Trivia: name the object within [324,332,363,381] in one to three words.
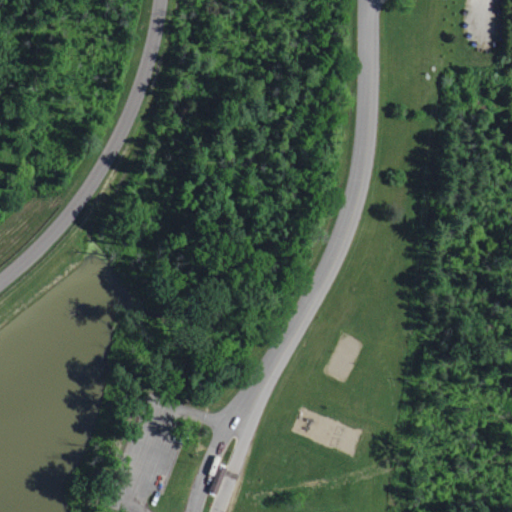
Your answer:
sports court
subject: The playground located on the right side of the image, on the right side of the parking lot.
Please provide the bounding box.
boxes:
[292,408,362,457]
